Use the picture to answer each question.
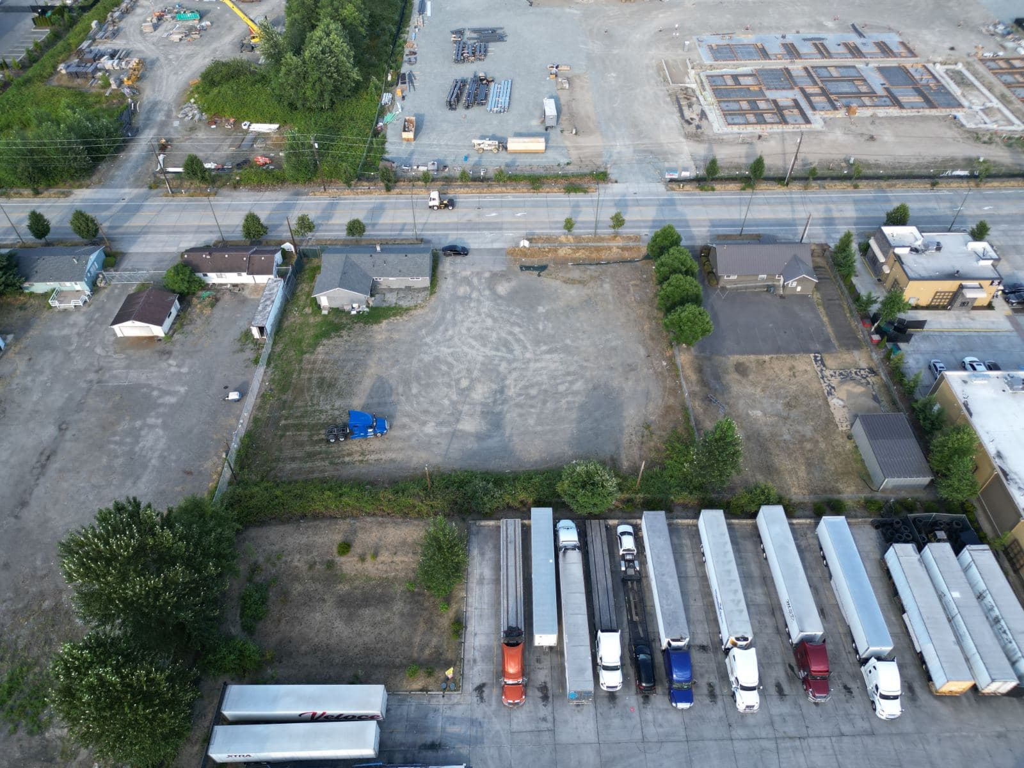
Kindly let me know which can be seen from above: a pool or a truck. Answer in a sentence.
The image shows a truck.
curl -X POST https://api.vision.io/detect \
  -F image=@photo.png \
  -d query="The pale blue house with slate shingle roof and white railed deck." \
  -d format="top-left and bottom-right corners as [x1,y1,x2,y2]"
[0,246,108,306]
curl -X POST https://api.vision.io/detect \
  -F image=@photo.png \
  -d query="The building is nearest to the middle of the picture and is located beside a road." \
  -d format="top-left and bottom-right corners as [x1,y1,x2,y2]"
[311,245,433,314]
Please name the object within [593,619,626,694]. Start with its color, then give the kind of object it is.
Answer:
white truck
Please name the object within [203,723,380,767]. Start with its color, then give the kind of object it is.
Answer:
white trailer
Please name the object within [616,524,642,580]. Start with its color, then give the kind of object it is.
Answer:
white truck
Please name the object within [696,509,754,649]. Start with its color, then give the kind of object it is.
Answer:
white trailer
